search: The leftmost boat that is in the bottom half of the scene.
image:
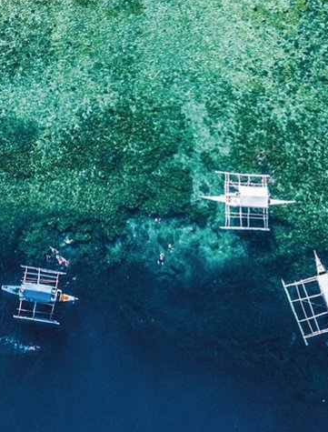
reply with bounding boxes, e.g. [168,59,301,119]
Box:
[2,265,81,324]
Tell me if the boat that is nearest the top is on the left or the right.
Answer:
right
